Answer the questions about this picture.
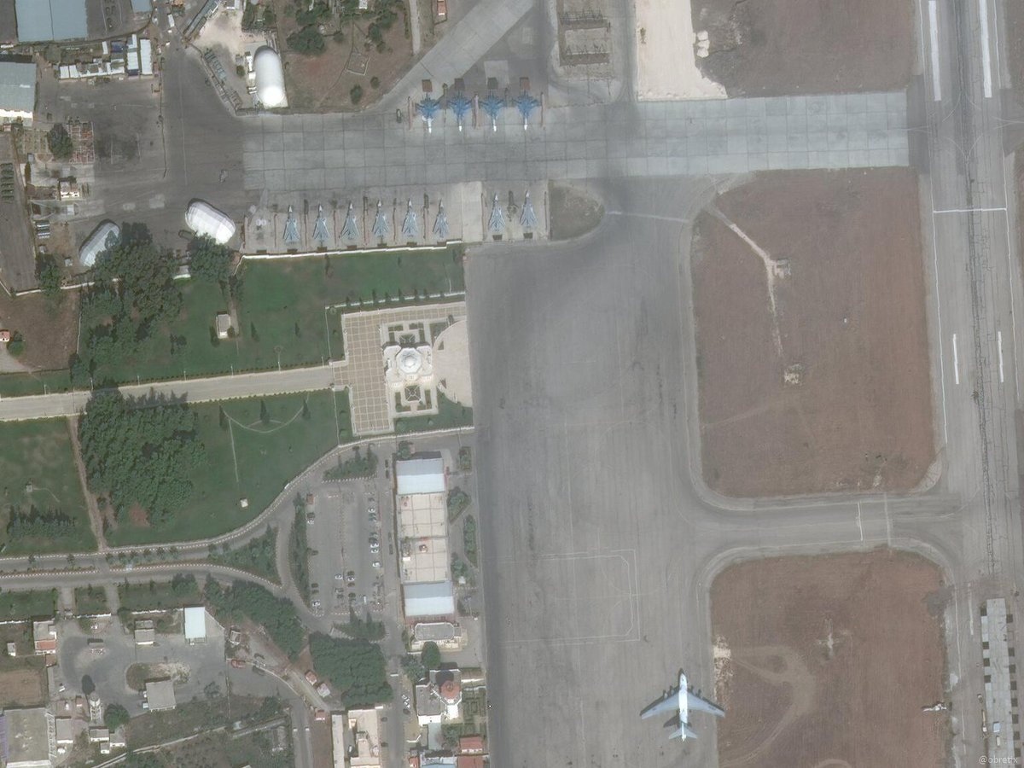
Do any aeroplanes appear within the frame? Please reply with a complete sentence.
Yes, there is an aeroplane in the image.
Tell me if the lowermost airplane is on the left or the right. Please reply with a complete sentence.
The lowermost airplane is on the right side of the image.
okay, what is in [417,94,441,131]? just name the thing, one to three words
airplane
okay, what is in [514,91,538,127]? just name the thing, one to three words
airplane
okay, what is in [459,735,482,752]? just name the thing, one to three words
house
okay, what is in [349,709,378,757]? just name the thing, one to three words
building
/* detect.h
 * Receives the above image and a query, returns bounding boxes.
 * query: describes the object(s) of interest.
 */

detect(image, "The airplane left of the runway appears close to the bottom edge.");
[641,671,725,743]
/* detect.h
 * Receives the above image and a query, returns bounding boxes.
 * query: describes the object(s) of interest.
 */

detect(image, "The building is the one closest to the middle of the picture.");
[384,345,433,388]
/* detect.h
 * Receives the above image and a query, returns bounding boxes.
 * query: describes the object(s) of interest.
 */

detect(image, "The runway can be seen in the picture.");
[922,0,1024,768]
